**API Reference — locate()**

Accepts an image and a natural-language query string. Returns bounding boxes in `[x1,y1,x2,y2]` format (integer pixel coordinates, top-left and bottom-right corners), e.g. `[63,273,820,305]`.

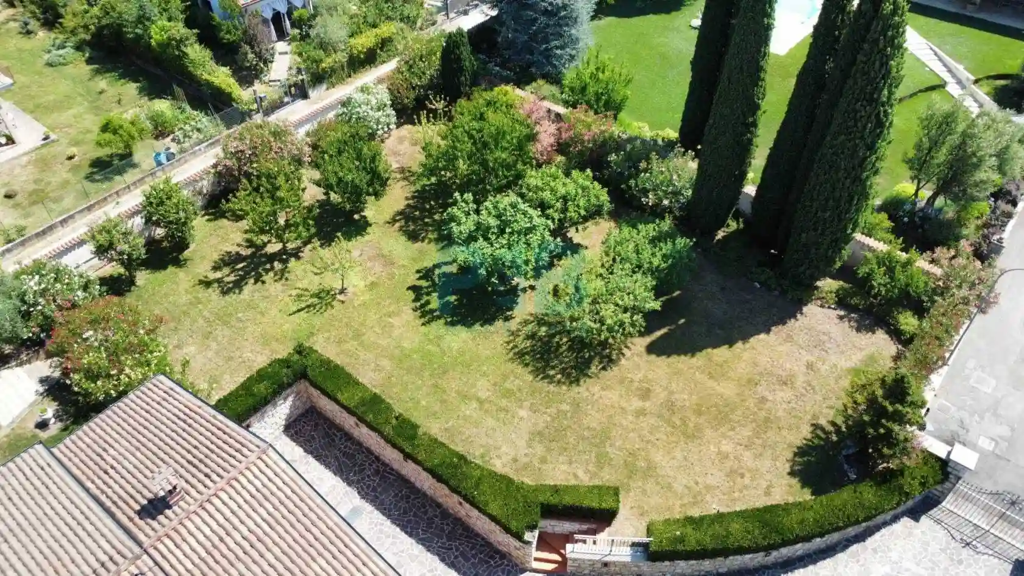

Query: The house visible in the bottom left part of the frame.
[0,373,406,576]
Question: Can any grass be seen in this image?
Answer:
Yes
